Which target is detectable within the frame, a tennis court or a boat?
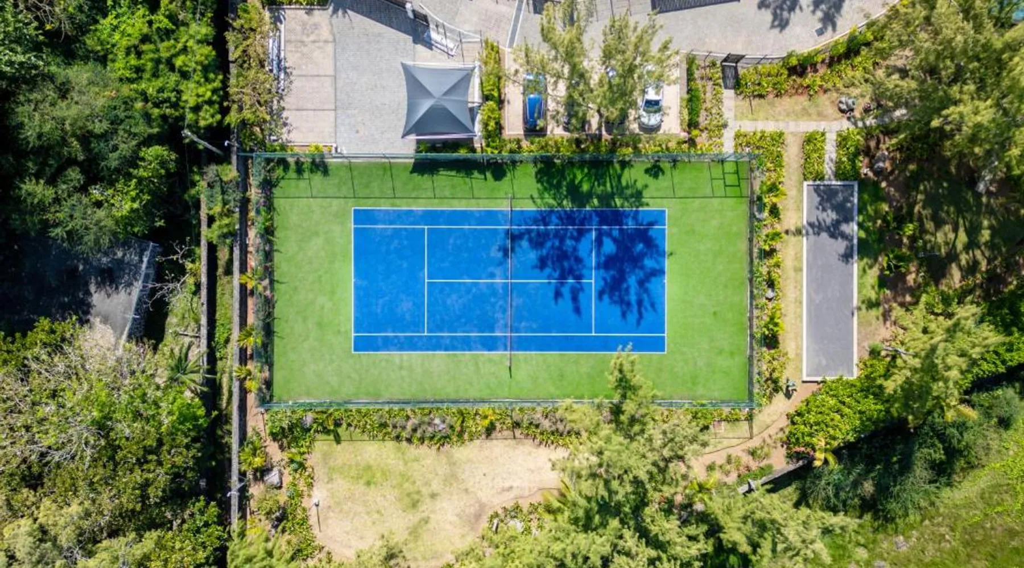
tennis court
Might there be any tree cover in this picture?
Yes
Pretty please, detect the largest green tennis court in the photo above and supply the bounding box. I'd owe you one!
[269,159,748,403]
